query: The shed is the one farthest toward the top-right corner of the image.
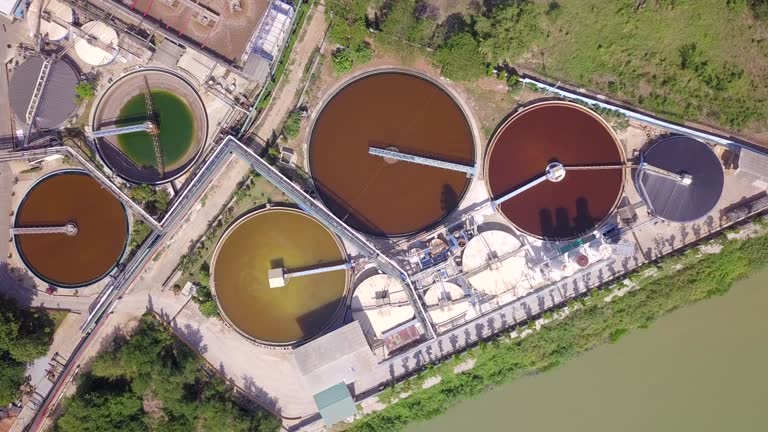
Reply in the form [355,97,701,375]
[724,156,768,197]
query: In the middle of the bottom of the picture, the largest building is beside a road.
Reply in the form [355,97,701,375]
[294,318,382,393]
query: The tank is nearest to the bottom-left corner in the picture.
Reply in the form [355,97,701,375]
[7,170,133,287]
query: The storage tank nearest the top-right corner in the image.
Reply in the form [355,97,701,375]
[633,136,724,220]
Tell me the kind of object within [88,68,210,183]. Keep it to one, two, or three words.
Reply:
storage tank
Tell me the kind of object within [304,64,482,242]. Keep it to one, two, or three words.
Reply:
storage tank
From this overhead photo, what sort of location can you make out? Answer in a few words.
industrial area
